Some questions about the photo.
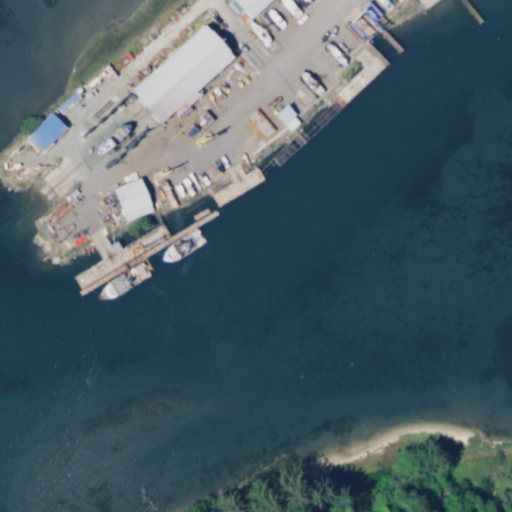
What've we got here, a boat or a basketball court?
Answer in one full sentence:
Of the two, only a boat appears.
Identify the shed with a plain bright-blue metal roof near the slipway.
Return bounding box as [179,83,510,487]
[29,113,68,152]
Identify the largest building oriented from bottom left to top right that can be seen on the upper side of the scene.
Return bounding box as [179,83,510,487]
[132,25,236,124]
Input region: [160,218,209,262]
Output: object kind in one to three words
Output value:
ship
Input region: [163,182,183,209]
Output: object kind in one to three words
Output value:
boat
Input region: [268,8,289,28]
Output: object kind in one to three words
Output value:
boat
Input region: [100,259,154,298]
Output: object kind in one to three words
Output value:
ship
